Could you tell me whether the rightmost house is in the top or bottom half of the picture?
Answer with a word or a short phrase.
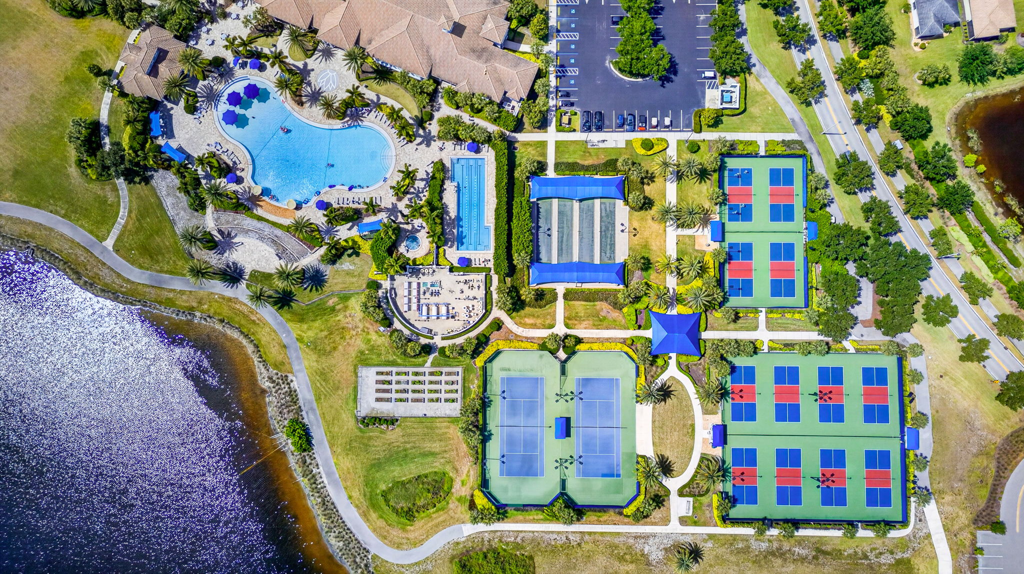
top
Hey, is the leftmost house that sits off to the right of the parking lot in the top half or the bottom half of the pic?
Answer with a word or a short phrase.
top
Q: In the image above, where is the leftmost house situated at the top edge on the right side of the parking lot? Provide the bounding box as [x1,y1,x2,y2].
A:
[908,0,961,41]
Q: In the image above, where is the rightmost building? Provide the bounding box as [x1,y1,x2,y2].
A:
[963,0,1017,41]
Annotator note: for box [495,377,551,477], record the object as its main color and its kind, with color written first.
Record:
blue tennis court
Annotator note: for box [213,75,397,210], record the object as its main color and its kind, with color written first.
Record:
blue swimming pool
